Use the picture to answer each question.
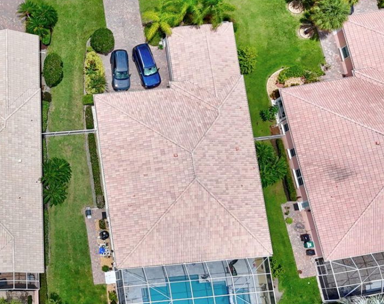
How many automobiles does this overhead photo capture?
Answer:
2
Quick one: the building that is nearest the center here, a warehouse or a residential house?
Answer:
residential house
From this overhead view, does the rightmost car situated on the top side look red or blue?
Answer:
blue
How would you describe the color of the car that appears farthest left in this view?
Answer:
blue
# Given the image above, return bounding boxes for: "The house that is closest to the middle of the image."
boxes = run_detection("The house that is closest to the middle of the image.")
[92,20,277,271]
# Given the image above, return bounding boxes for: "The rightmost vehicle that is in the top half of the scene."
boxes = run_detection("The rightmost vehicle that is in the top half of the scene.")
[133,45,159,87]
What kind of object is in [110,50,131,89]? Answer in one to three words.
car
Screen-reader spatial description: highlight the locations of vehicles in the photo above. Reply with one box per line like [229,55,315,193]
[110,50,131,89]
[133,45,159,87]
